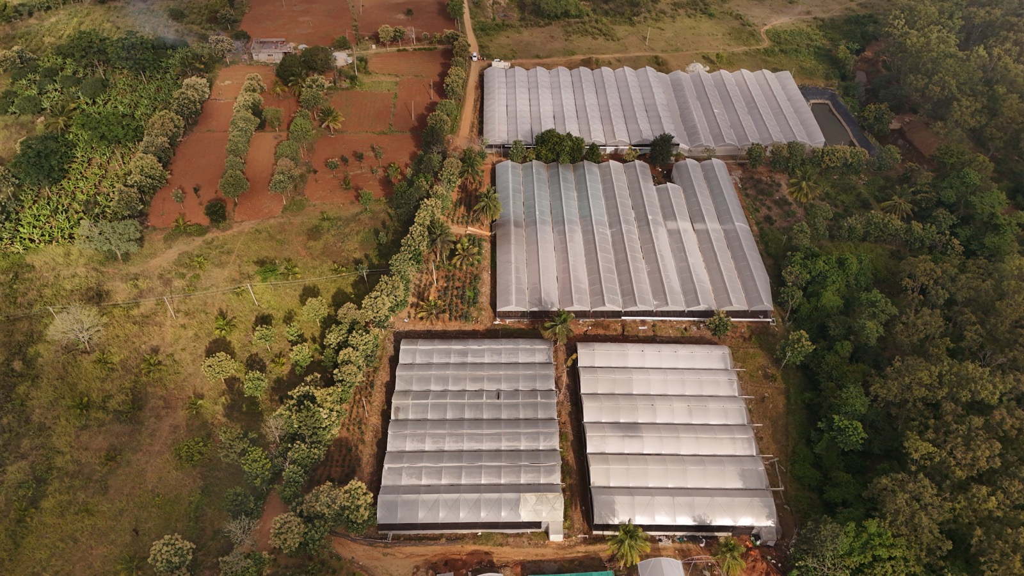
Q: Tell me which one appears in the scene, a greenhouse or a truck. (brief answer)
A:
greenhouse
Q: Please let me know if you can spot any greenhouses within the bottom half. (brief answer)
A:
Yes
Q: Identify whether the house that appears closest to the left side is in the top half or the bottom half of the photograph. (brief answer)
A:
top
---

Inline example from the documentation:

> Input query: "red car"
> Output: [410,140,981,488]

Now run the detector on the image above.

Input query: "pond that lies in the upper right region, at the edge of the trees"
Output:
[798,86,909,176]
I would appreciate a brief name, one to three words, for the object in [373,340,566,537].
greenhouse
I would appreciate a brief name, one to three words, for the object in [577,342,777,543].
greenhouse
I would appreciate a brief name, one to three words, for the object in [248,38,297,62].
house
